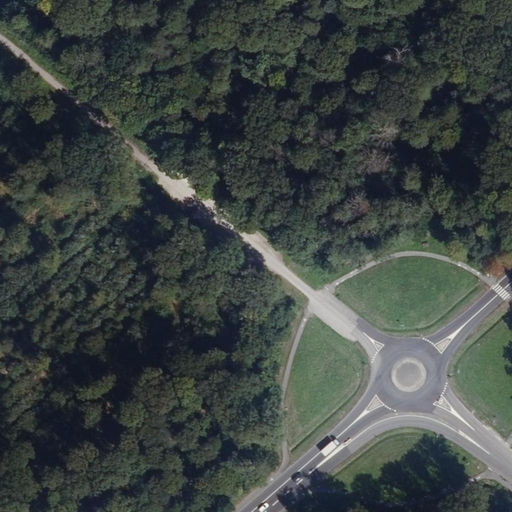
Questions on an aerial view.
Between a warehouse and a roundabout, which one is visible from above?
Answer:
roundabout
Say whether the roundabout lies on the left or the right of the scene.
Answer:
right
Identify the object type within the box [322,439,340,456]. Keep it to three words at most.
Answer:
vehicle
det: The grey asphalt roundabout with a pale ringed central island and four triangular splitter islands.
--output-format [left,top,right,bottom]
[352,318,450,412]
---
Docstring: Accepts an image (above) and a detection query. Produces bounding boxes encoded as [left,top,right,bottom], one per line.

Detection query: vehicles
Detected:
[294,474,302,482]
[322,439,340,456]
[260,504,268,512]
